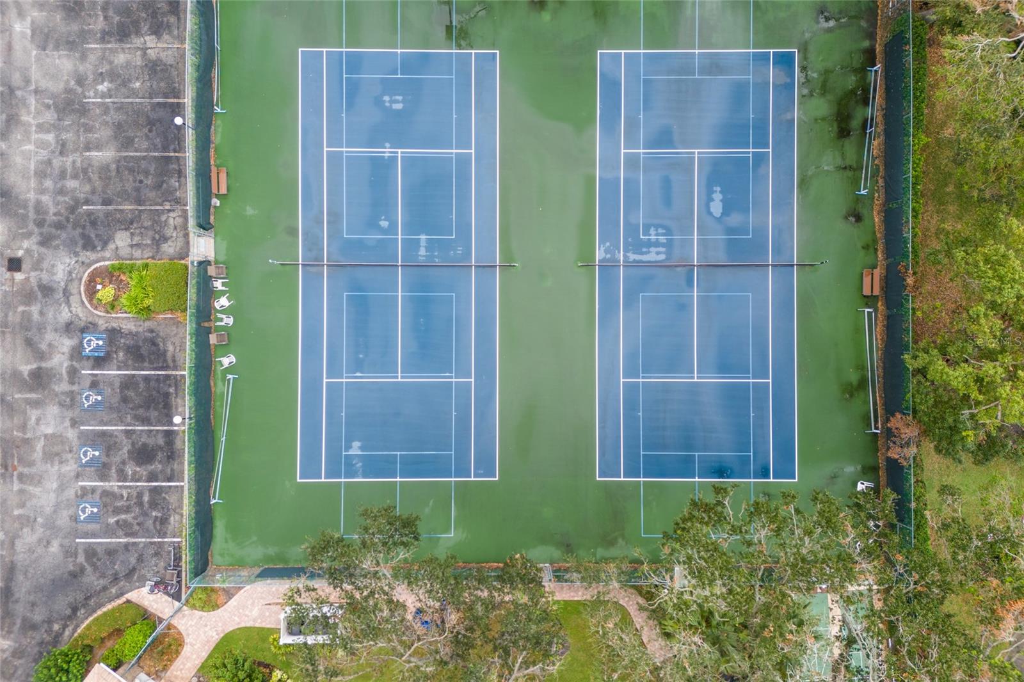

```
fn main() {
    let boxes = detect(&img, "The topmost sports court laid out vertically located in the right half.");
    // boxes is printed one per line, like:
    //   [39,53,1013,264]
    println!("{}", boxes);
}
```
[640,0,754,238]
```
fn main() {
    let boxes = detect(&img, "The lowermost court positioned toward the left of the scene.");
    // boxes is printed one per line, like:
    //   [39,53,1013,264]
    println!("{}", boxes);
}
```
[341,293,456,536]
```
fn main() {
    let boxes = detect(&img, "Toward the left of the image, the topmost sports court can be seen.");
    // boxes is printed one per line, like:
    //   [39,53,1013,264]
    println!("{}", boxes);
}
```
[342,0,457,237]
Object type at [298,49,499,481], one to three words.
tennis court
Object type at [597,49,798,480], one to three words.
tennis court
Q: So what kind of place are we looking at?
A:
sports ground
